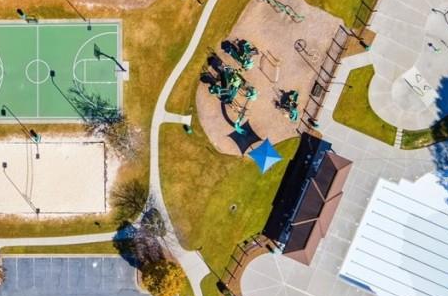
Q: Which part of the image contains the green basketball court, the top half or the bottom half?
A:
top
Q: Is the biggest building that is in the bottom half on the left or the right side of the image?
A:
right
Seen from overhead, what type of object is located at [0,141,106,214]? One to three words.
sports court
